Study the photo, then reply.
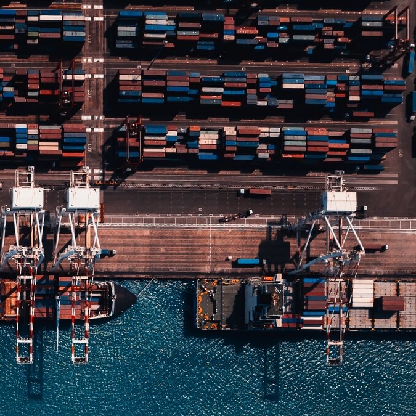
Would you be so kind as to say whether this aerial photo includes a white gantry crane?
Yes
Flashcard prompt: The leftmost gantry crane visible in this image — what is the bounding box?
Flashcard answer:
[0,163,50,364]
